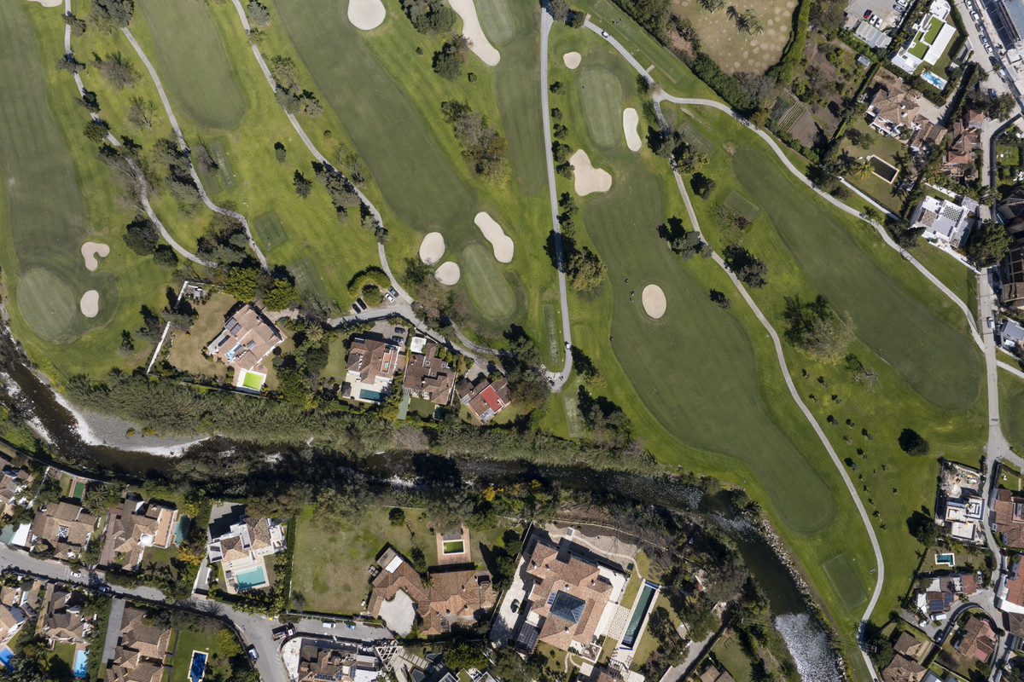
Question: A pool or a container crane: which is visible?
pool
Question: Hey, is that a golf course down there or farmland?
golf course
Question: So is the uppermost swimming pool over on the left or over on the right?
right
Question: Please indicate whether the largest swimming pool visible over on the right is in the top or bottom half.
bottom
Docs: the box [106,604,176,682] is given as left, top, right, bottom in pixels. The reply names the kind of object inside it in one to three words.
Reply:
house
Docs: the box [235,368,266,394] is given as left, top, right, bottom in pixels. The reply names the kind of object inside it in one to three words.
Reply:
swimming pool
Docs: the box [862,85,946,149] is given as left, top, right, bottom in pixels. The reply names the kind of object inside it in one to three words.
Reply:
house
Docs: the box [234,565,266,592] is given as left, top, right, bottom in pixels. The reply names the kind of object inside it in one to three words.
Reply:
swimming pool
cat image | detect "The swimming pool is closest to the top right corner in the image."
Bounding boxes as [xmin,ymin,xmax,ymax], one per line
[921,68,948,89]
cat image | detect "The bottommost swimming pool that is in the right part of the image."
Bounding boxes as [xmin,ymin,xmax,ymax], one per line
[616,579,660,653]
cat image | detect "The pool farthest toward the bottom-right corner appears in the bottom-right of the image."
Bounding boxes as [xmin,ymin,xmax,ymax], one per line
[935,553,956,567]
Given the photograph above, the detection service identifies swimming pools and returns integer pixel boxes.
[433,405,443,419]
[935,553,956,567]
[357,387,386,404]
[921,68,948,89]
[235,368,266,394]
[867,154,900,184]
[69,478,88,501]
[234,565,266,592]
[187,651,209,682]
[442,540,465,555]
[616,579,660,653]
[173,514,192,546]
[72,650,90,678]
[0,646,14,672]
